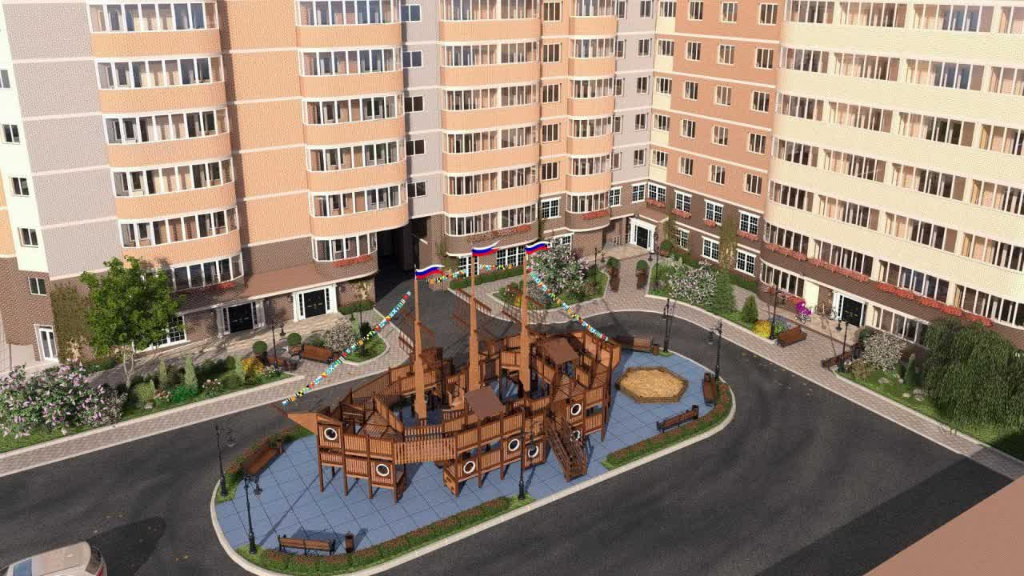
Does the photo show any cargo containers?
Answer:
No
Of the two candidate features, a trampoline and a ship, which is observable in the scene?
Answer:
ship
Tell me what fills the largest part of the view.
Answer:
buildings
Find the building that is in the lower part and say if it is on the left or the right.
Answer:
right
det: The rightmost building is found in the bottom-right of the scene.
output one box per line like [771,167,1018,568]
[865,494,1024,576]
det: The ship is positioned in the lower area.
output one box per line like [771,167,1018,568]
[272,238,618,502]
